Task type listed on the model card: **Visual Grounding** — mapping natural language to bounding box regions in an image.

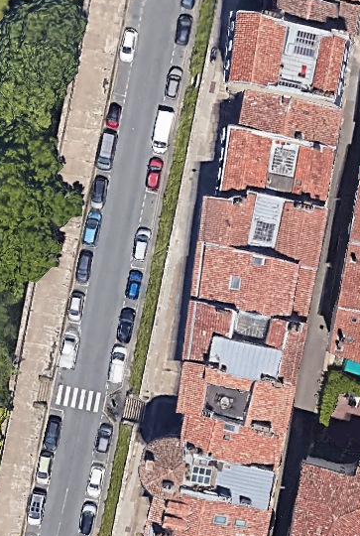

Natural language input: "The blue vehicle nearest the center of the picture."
[124,267,145,302]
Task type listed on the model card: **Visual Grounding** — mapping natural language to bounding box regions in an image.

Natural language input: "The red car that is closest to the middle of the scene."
[145,154,166,193]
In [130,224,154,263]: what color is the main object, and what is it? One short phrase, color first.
white car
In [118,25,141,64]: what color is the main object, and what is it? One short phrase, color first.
white car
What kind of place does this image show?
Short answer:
residential area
